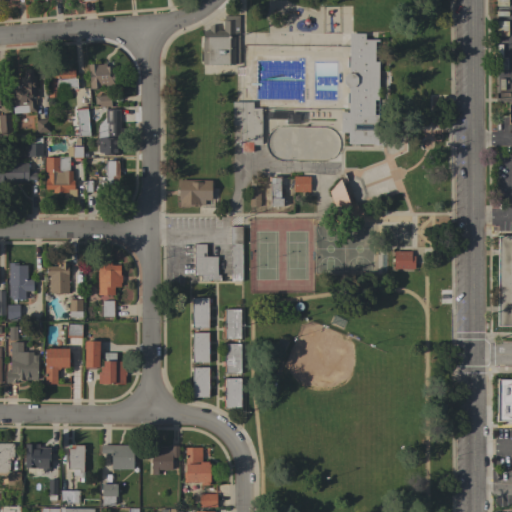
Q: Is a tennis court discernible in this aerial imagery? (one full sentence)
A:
Yes, the photo shows a tennis court.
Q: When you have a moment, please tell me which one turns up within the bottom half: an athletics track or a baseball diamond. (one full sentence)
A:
There is a baseball diamond within the bottom half.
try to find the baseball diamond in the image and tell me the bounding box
[268,316,424,466]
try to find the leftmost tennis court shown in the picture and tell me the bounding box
[250,218,282,292]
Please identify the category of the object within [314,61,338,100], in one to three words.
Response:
swimming pool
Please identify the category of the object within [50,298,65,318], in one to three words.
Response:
swimming pool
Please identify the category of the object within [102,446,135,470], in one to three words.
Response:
house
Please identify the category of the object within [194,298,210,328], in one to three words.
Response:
building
